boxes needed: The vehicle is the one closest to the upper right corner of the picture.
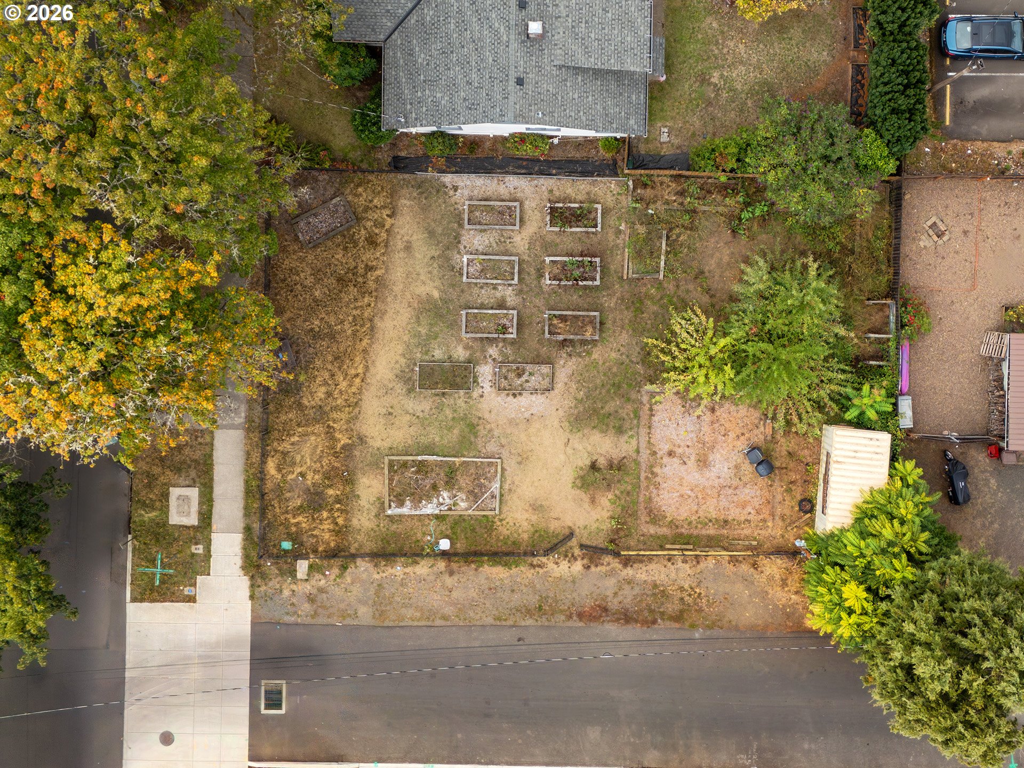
[938,10,1024,61]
